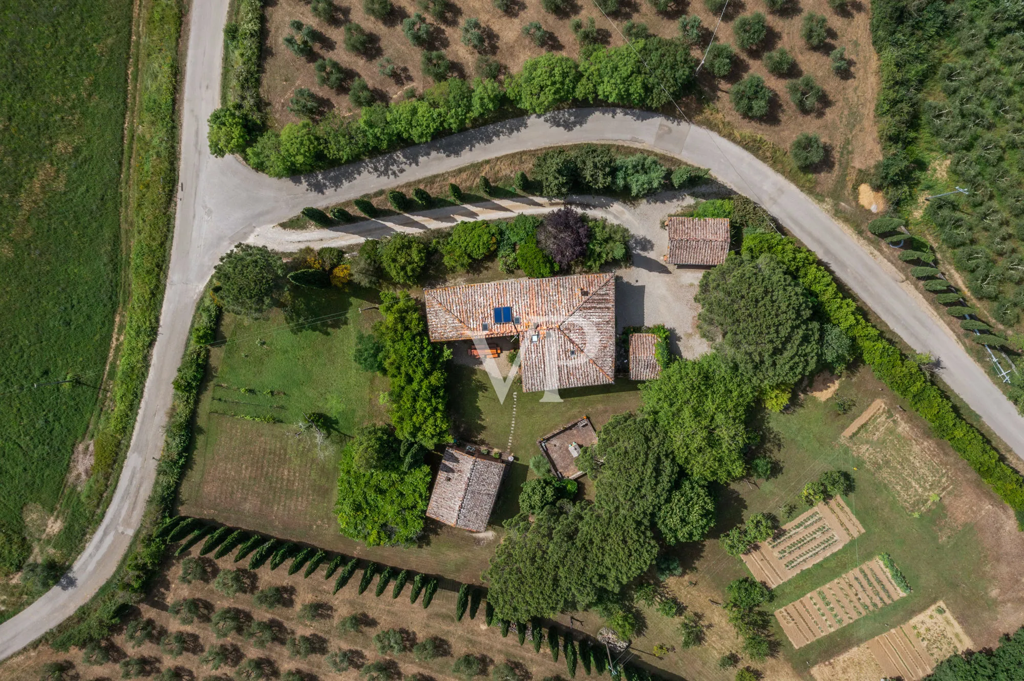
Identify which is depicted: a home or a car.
home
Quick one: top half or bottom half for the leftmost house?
bottom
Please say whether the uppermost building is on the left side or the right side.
right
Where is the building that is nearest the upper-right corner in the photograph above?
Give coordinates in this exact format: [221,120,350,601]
[664,216,731,267]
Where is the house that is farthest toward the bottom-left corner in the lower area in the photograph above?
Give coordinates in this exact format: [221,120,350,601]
[425,445,505,532]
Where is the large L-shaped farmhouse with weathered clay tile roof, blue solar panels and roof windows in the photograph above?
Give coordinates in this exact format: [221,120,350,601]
[424,271,616,394]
